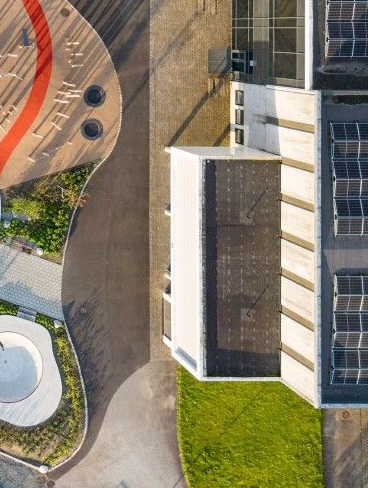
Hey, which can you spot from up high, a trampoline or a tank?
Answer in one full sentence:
Of the two, only a trampoline appears.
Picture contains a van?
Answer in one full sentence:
No, no van is visible in the view.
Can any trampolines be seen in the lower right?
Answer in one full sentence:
No, there's no trampoline to be seen in the lower right.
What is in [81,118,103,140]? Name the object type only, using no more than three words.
trampoline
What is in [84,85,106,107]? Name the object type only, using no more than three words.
trampoline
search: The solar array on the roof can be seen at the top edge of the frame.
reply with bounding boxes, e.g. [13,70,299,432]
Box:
[326,0,368,58]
